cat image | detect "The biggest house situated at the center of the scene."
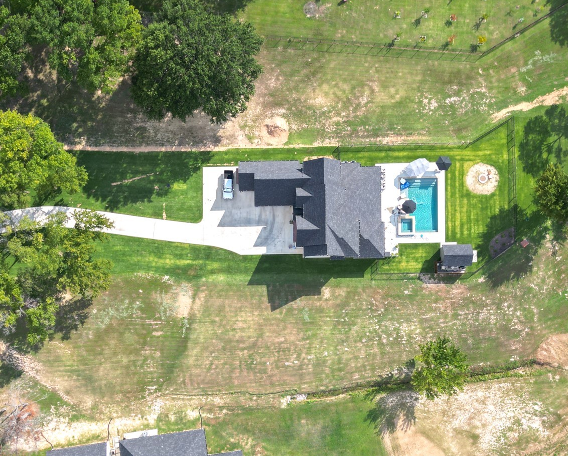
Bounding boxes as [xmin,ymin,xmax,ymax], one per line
[237,157,387,261]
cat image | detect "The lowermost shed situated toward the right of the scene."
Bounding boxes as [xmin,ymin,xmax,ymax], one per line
[441,245,474,266]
